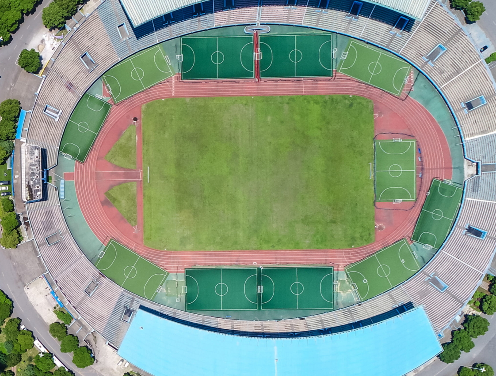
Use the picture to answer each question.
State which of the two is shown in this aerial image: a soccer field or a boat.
soccer field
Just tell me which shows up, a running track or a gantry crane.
running track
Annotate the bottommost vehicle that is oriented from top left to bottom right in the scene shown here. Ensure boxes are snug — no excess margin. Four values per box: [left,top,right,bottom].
[52,354,70,370]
